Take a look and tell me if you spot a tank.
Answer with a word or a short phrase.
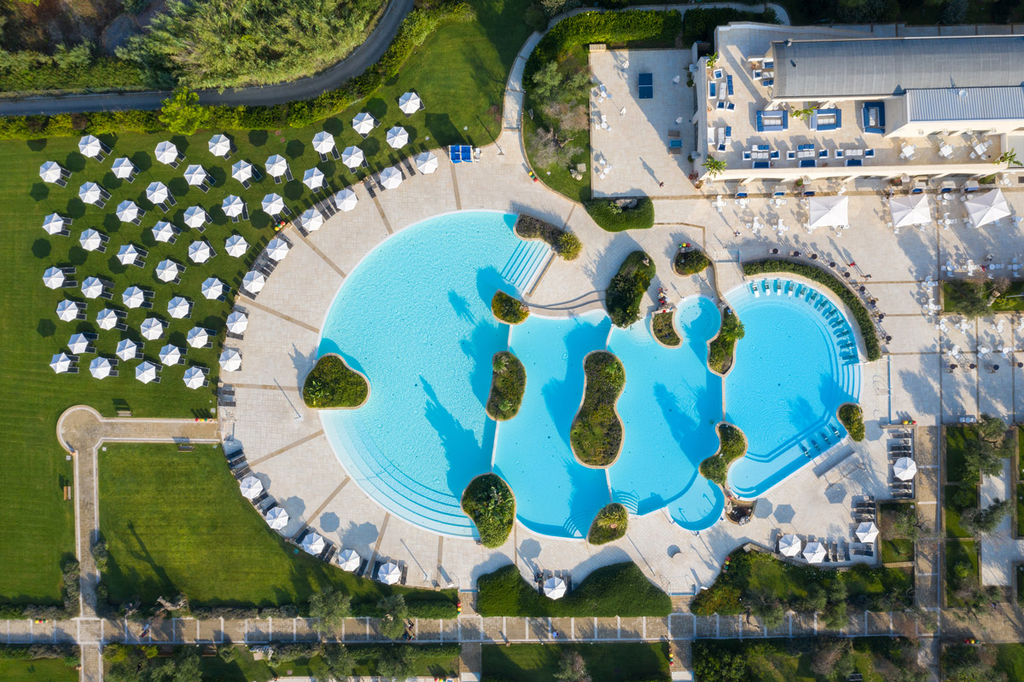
No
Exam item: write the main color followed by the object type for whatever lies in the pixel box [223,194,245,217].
white umbrella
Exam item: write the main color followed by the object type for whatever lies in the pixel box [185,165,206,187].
white umbrella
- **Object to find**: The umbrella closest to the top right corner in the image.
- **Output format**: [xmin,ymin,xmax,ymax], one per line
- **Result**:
[963,188,1011,228]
